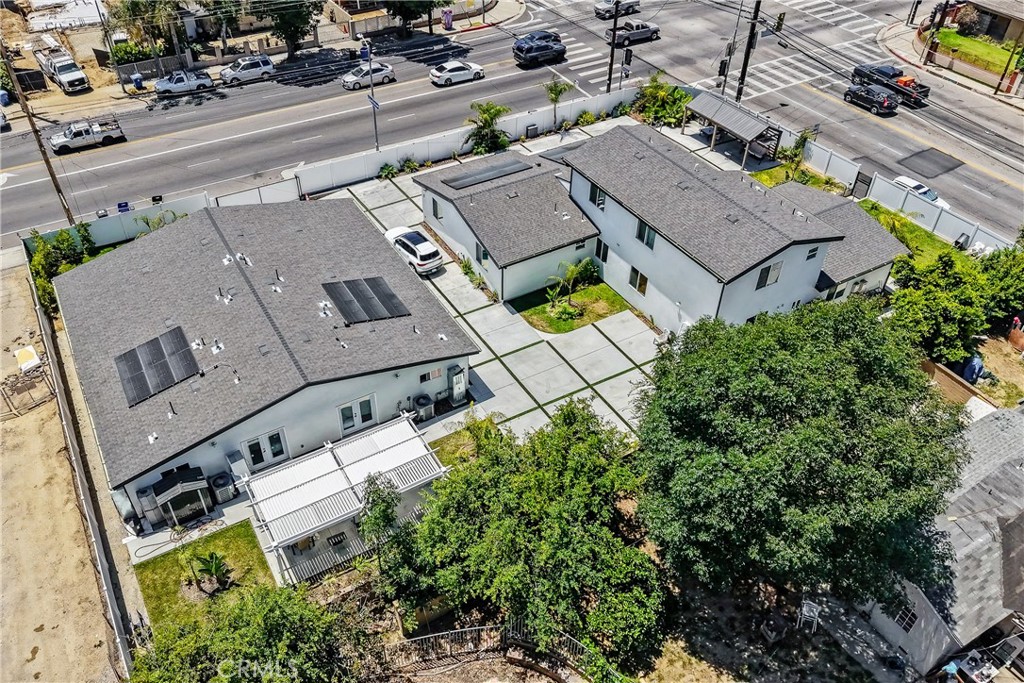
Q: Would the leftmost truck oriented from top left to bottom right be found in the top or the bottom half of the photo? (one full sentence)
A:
Seen from above, the leftmost truck oriented from top left to bottom right lies in the top half of the view.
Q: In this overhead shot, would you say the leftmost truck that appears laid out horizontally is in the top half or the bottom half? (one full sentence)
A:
You can find the leftmost truck that appears laid out horizontally in the top half.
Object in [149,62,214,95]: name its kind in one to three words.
truck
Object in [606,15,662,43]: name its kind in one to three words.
truck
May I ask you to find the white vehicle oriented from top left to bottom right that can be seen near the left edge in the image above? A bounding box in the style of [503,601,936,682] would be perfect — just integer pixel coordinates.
[35,33,90,91]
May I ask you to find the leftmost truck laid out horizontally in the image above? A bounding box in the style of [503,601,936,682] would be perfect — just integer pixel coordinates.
[42,110,125,151]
